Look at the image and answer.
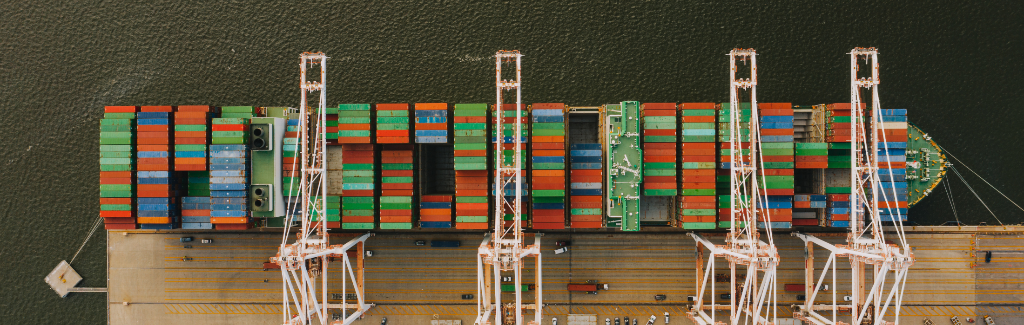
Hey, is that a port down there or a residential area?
port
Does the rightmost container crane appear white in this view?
Yes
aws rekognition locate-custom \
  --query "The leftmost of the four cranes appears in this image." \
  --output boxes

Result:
[273,51,374,325]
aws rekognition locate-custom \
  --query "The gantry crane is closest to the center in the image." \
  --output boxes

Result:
[474,50,545,325]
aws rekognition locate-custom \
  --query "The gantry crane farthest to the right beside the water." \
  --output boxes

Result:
[789,47,915,325]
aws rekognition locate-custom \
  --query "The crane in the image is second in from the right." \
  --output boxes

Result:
[685,48,783,325]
